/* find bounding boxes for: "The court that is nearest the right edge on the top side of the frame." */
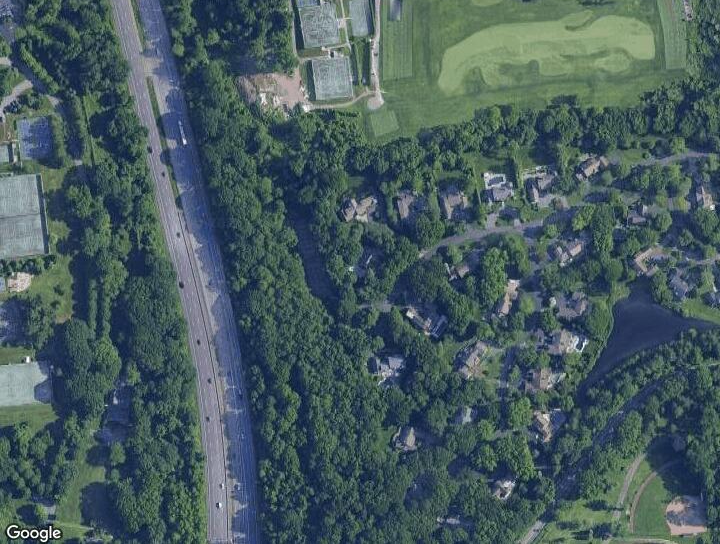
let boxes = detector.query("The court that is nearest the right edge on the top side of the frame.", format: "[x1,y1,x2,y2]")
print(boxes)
[350,0,373,37]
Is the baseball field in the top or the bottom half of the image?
bottom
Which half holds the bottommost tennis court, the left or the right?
left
